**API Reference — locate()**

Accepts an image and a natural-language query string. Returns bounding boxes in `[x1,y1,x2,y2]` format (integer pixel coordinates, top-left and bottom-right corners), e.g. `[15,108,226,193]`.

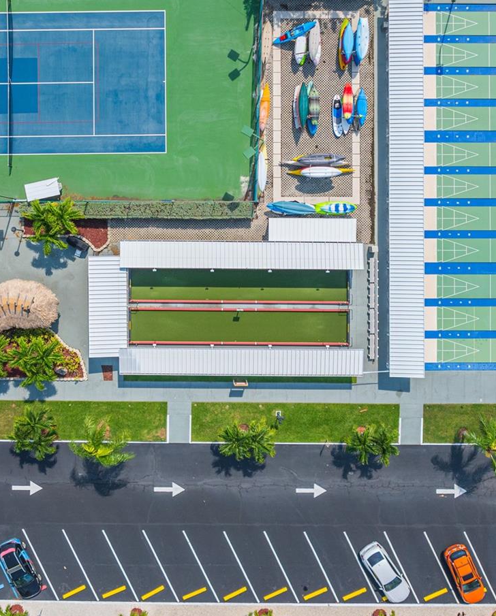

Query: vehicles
[0,539,44,595]
[361,542,407,600]
[445,544,484,599]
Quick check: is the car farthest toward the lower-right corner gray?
No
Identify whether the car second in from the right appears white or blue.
white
